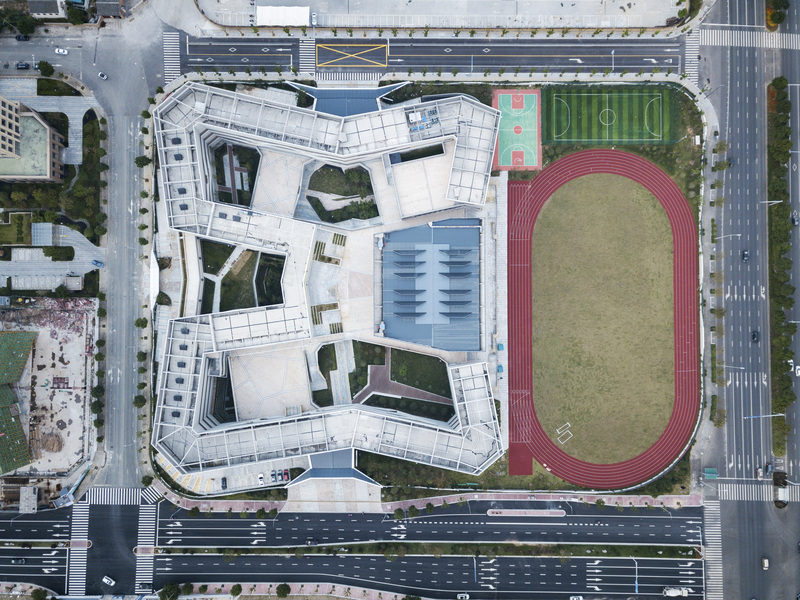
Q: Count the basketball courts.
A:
1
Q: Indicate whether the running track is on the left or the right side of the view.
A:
right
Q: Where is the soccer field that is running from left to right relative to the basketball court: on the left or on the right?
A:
on its right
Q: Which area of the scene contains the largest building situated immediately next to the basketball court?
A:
center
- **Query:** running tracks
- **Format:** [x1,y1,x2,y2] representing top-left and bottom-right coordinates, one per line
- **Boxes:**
[507,149,699,490]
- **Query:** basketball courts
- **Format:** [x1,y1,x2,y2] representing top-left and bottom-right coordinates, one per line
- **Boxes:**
[493,89,542,170]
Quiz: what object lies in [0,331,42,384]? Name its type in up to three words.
building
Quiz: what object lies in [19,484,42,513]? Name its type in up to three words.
building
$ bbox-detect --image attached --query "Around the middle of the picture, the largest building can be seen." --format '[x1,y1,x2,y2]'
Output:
[152,80,505,488]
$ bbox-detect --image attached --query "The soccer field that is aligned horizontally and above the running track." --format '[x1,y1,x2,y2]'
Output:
[541,86,677,145]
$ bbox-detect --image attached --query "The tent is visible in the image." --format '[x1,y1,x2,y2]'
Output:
[256,6,312,30]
